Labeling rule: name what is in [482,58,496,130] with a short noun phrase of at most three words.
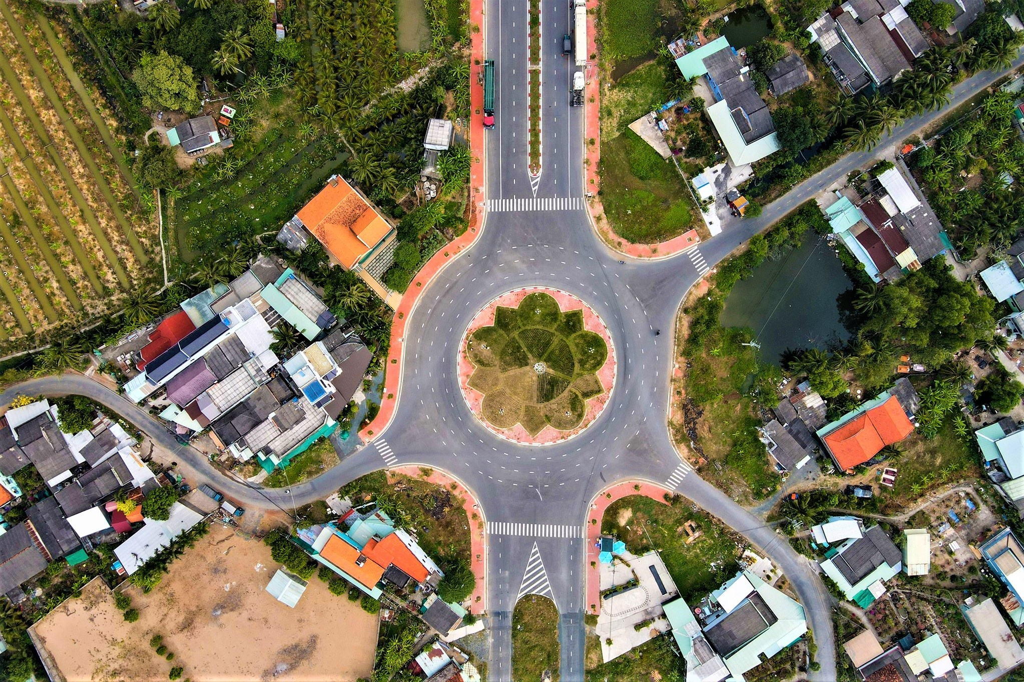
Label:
vehicle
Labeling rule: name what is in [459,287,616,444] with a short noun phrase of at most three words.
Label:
roundabout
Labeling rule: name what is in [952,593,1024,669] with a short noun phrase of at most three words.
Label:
building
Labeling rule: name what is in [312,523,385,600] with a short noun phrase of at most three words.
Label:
house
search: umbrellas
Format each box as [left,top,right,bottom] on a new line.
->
[599,552,612,564]
[613,541,625,554]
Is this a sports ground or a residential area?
residential area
